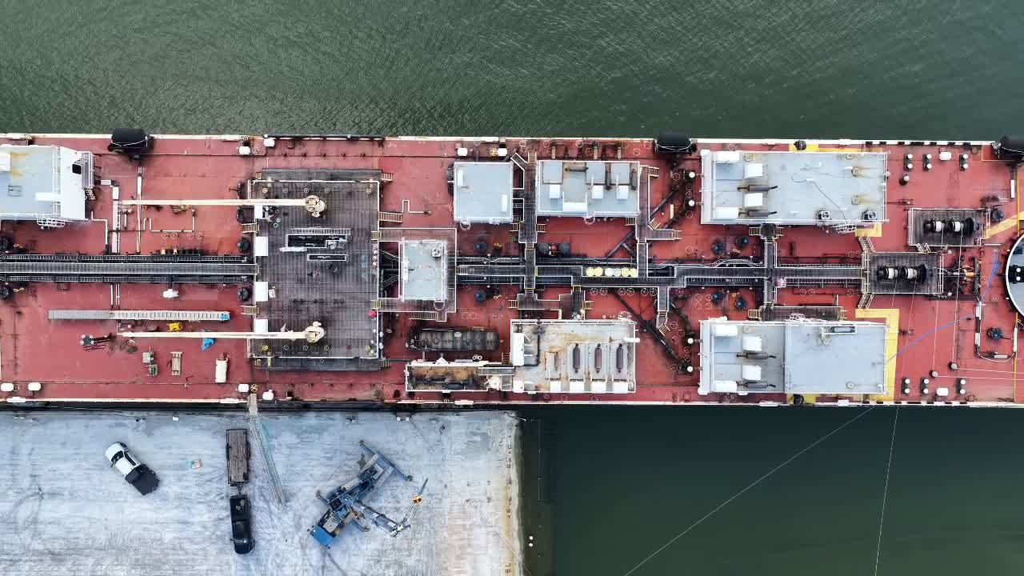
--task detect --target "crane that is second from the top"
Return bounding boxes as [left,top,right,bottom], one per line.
[115,317,332,341]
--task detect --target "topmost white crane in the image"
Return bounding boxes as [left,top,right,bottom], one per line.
[115,196,332,220]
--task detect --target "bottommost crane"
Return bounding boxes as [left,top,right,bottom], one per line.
[303,437,427,555]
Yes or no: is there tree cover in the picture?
No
